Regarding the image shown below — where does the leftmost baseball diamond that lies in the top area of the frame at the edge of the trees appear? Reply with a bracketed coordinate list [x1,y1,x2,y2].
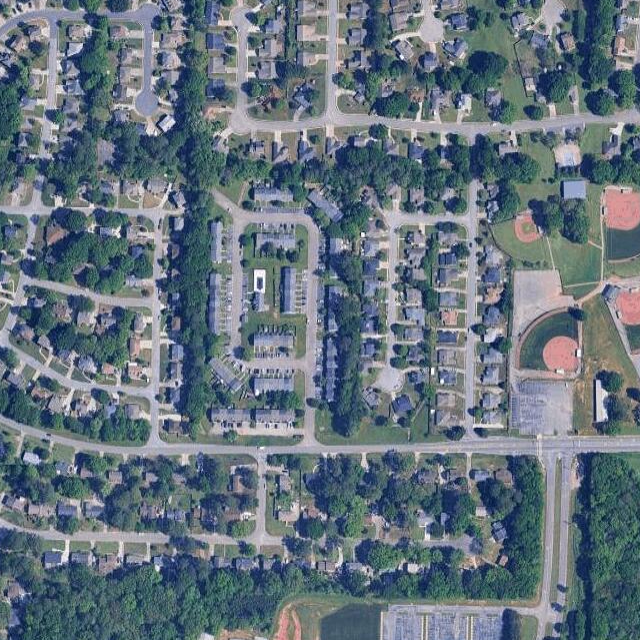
[491,212,542,264]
